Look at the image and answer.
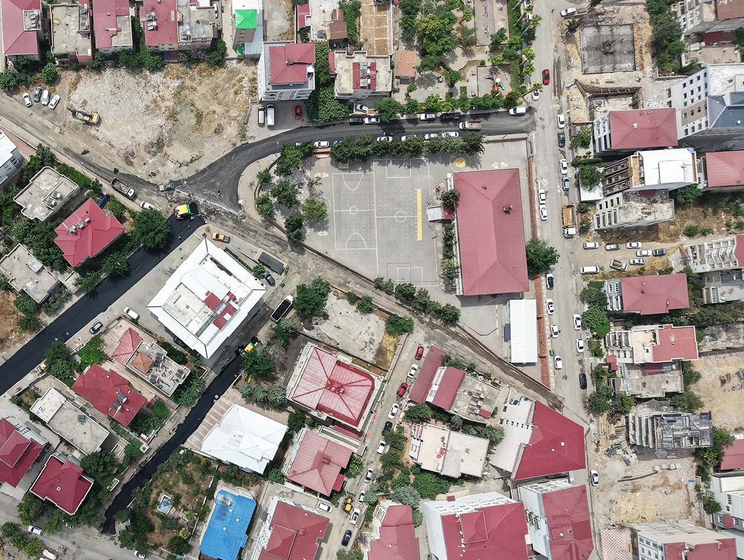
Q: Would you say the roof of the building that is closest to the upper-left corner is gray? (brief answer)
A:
No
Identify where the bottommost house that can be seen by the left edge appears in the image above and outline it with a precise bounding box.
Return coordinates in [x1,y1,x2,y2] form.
[30,454,95,515]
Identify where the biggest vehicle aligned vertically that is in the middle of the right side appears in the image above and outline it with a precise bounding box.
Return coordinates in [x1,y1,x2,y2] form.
[563,204,576,238]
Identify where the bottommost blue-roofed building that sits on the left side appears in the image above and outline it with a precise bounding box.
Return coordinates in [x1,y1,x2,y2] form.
[200,480,258,560]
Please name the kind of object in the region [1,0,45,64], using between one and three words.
building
